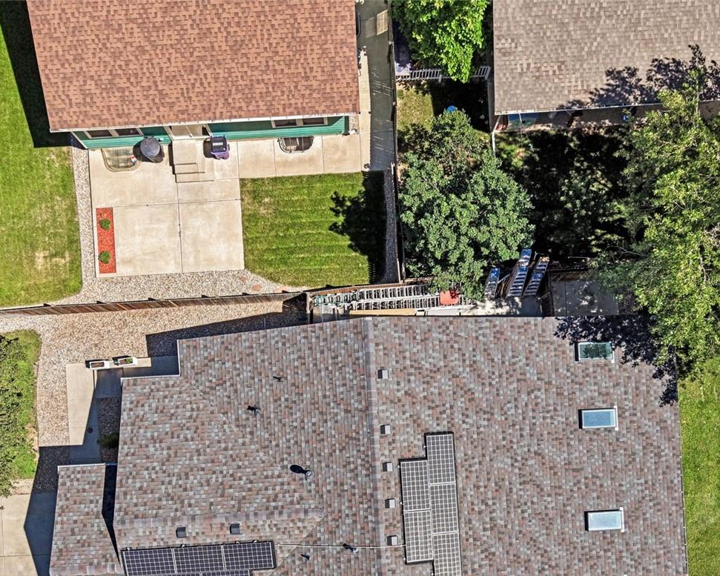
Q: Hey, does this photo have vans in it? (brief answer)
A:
No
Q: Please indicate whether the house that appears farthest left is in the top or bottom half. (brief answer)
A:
top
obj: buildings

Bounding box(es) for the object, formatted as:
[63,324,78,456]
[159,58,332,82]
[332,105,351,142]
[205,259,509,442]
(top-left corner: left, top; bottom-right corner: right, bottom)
[30,0,358,147]
[483,0,720,140]
[51,313,691,576]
